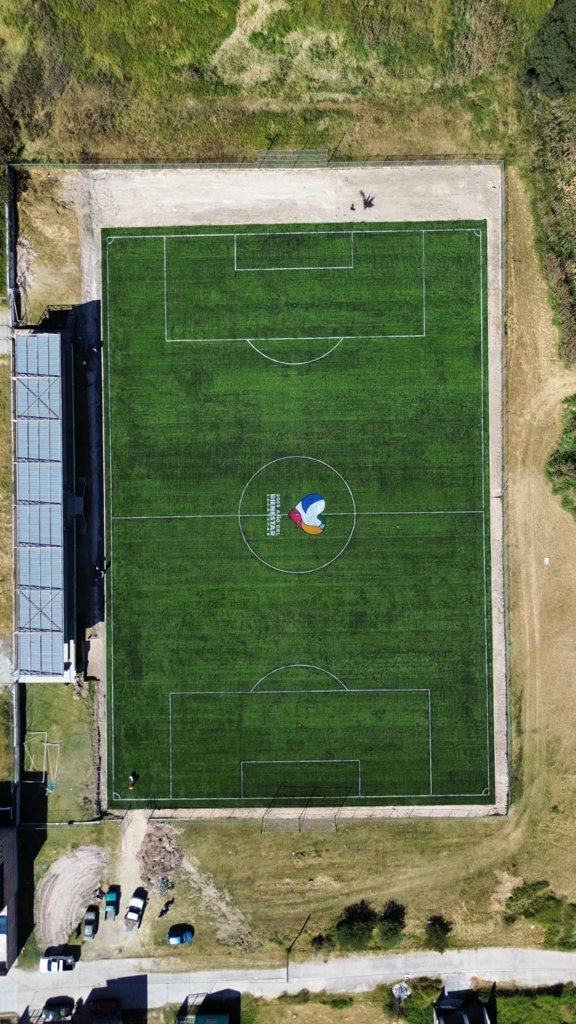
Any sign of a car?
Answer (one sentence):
Yes, the picture does show a car.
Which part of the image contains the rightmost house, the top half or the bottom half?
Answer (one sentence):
It is in the bottom half that the rightmost house appears.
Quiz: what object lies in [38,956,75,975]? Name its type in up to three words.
vehicle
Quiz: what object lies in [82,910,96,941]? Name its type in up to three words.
car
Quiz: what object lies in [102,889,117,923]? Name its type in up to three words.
vehicle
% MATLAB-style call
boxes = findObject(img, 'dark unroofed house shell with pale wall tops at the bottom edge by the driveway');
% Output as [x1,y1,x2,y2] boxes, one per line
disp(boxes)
[434,994,492,1024]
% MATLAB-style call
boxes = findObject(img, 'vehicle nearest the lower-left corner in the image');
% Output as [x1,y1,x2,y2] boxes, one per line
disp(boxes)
[41,1004,72,1022]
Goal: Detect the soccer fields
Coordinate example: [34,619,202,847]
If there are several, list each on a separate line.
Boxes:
[100,220,496,809]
